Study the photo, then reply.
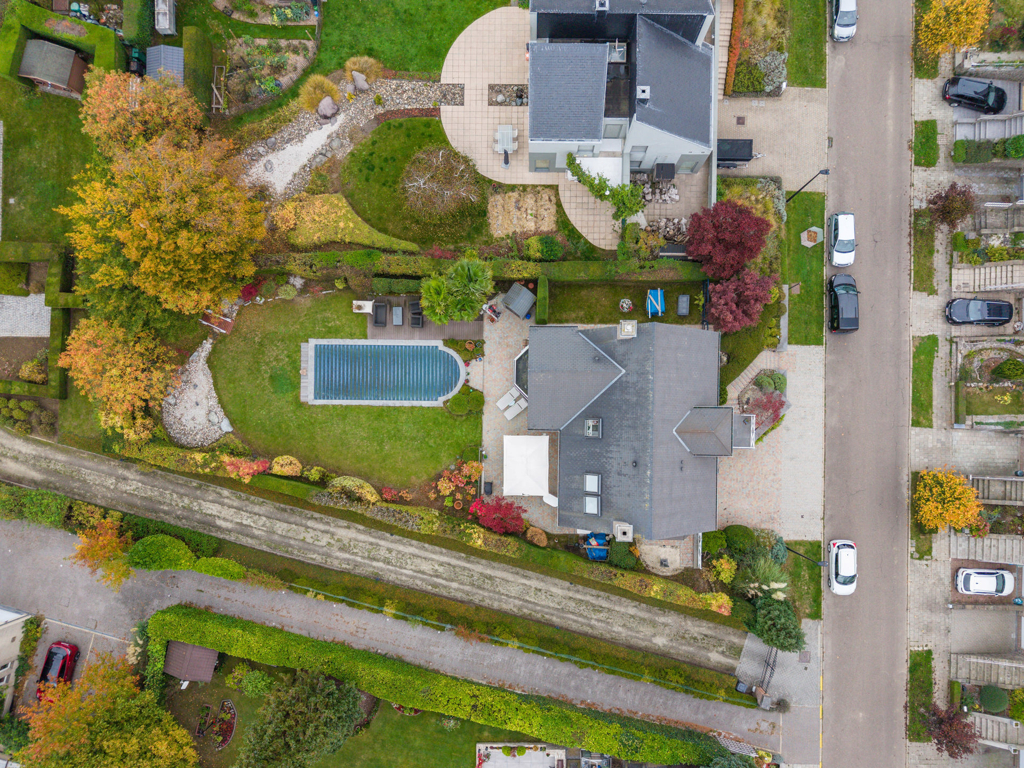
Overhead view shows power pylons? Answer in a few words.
No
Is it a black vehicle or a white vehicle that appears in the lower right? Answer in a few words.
white vehicle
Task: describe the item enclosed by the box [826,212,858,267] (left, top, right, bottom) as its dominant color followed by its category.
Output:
white car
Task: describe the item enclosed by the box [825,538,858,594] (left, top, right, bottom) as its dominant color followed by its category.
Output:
white car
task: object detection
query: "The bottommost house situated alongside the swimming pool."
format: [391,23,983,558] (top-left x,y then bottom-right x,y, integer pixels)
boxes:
[513,320,758,542]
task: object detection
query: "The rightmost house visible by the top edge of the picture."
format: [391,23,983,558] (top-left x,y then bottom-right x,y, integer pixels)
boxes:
[529,0,714,196]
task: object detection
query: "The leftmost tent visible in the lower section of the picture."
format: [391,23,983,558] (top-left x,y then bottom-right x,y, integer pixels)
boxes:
[503,436,549,496]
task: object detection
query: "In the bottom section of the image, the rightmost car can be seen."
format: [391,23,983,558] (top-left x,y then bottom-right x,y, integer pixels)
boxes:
[949,566,1014,598]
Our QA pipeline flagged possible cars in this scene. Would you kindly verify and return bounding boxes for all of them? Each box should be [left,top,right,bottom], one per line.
[825,538,858,594]
[941,296,1014,327]
[825,274,860,334]
[949,566,1014,598]
[37,637,82,699]
[827,0,859,44]
[938,79,1004,117]
[826,212,858,267]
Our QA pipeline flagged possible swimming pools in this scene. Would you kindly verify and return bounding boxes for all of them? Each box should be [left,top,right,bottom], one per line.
[308,339,466,405]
